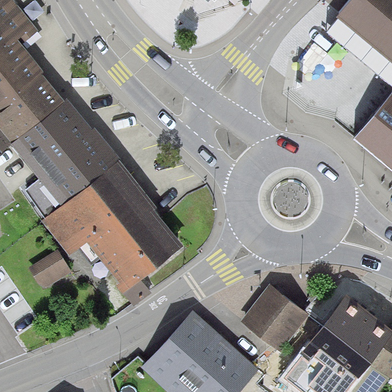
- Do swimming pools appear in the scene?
No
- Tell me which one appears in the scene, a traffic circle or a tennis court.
traffic circle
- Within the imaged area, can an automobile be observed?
Yes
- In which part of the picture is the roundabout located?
right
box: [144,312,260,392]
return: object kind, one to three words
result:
house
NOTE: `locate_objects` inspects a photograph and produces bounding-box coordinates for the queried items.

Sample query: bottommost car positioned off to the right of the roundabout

[362,258,382,270]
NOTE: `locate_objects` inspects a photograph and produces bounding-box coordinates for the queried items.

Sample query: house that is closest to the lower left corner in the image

[32,250,72,289]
